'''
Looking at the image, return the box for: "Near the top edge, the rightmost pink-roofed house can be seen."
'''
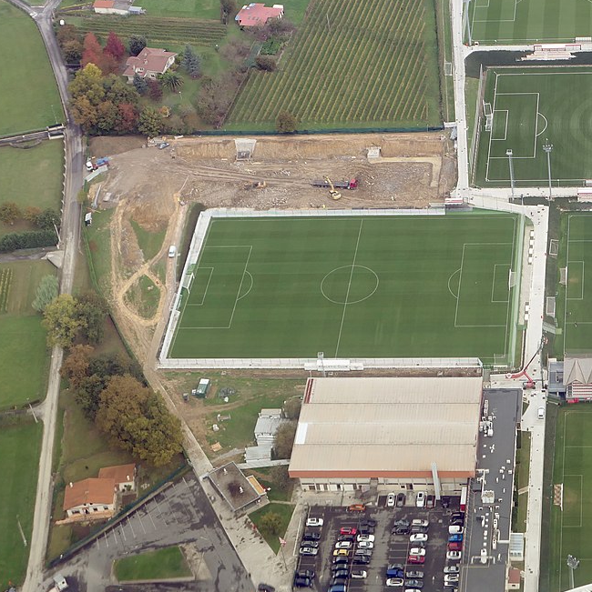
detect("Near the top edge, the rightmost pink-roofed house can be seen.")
[237,3,283,33]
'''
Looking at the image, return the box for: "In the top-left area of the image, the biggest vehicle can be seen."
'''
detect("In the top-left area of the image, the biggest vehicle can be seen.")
[88,151,112,167]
